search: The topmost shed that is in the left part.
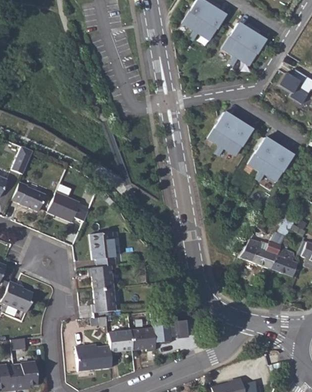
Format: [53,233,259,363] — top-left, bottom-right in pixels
[11,146,34,174]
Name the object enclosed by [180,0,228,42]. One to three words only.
house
